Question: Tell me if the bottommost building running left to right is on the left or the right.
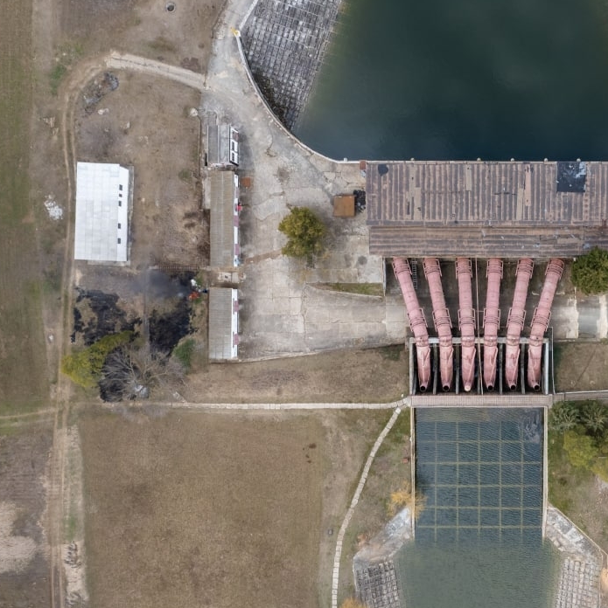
right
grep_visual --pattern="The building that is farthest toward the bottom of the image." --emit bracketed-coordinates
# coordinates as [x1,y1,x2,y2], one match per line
[209,288,239,360]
